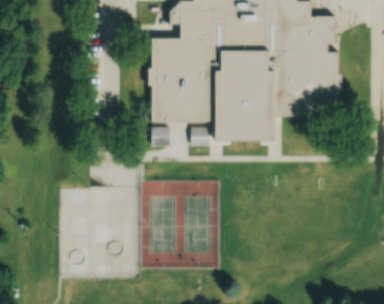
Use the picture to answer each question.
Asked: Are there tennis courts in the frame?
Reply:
Yes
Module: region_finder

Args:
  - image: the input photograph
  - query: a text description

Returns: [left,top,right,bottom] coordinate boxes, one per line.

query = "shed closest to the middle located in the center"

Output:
[192,128,210,147]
